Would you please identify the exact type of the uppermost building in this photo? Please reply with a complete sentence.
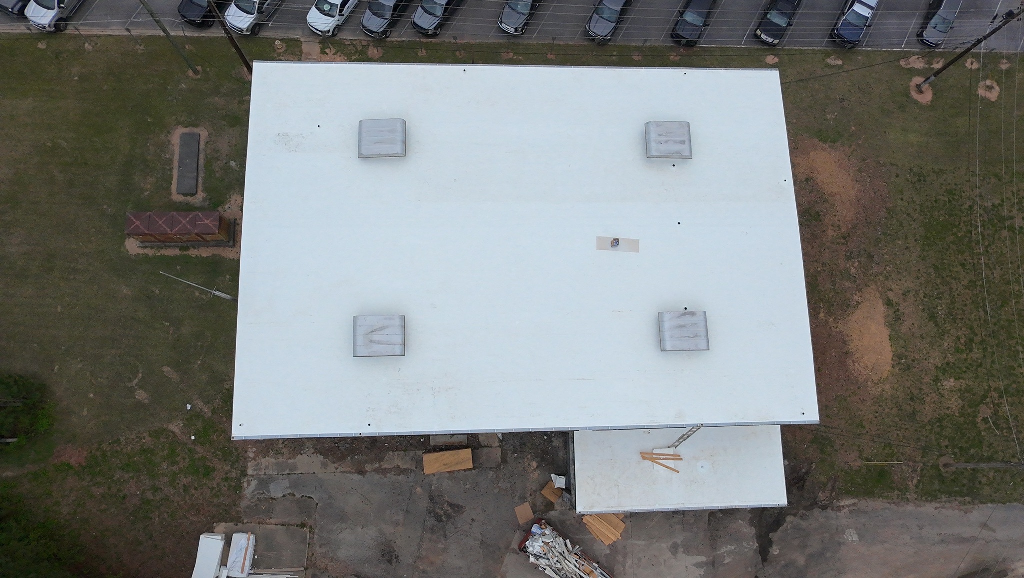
The uppermost building can be classified as a warehouse.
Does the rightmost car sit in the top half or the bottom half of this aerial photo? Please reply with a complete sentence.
The rightmost car sits in the top half of the picture.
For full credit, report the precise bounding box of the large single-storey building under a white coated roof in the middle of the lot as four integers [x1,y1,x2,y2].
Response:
[232,61,822,440]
